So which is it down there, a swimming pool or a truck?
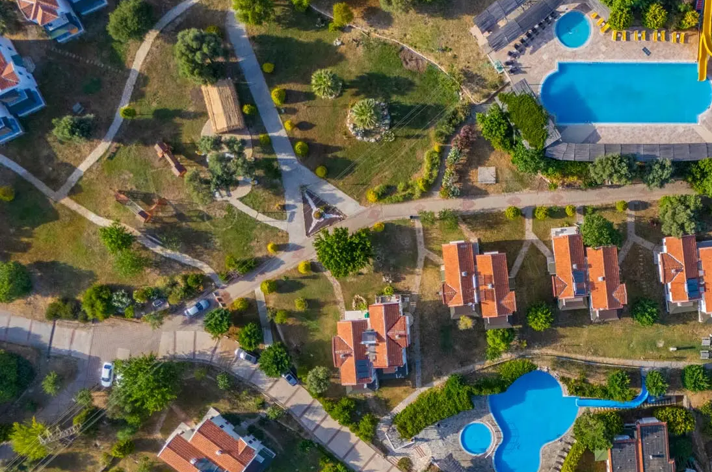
swimming pool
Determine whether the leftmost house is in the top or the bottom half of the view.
top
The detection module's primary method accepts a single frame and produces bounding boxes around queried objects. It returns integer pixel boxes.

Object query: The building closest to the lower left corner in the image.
[156,405,280,472]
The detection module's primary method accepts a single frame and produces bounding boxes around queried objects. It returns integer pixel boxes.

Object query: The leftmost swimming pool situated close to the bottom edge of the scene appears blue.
[459,421,494,456]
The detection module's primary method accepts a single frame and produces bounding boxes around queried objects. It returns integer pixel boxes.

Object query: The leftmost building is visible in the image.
[0,30,50,139]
